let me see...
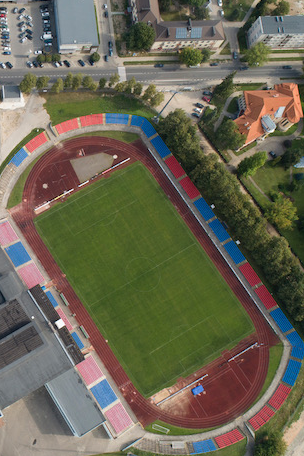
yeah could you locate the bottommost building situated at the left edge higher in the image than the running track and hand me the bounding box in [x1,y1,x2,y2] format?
[1,85,23,103]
